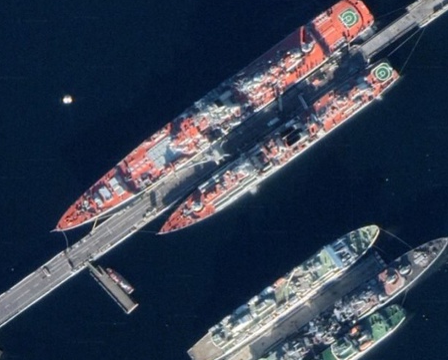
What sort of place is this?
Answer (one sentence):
The picture captures a port.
